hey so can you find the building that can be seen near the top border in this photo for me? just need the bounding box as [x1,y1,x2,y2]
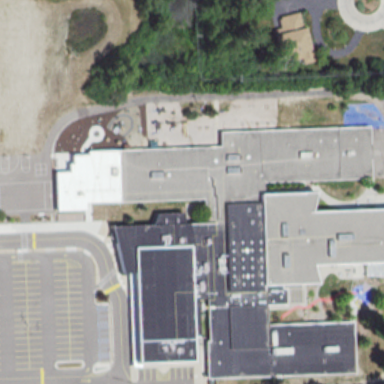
[279,11,318,68]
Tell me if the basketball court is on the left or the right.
left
